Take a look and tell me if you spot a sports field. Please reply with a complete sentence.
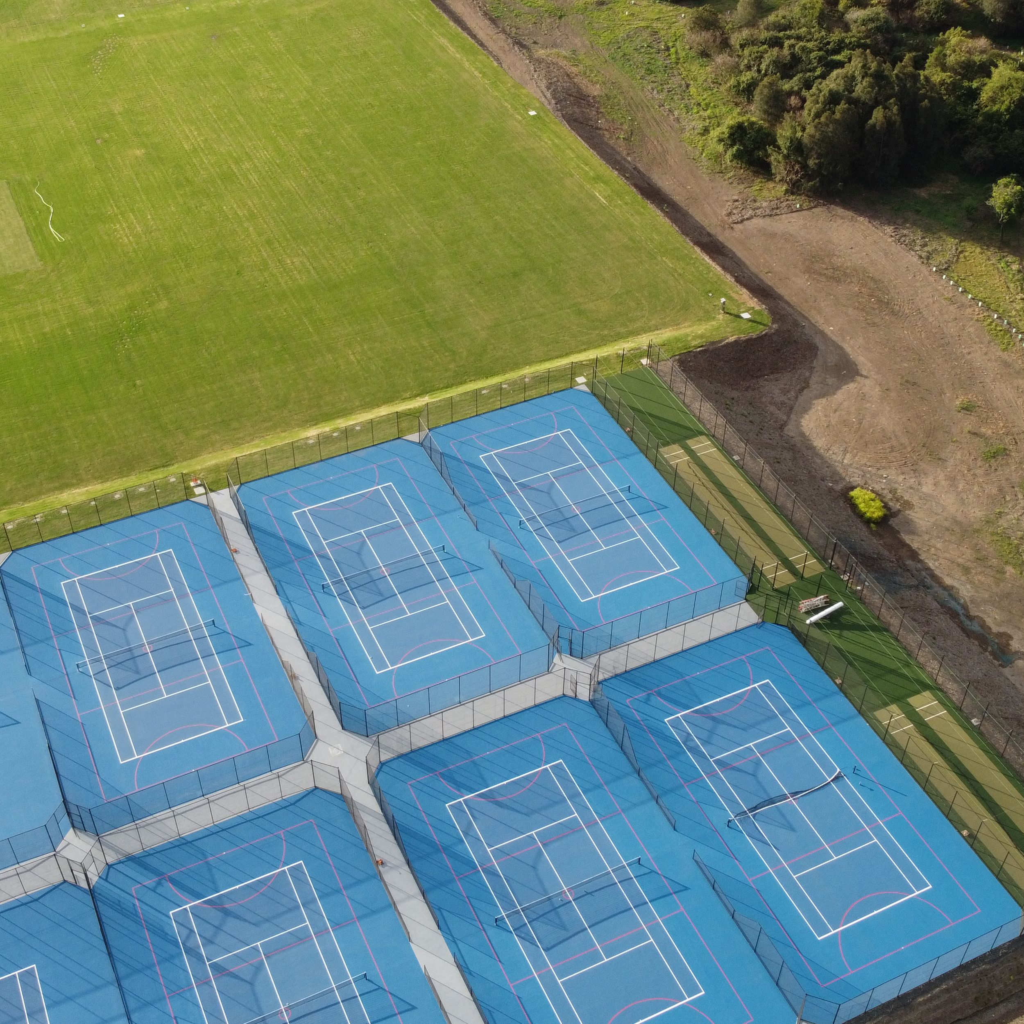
Yes, you can see a sports field in this photo.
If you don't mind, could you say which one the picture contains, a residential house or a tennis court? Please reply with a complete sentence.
Visible in the photo is a tennis court.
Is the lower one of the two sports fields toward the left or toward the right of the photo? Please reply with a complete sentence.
You can find the lower one of the two sports fields on the right side of the picture.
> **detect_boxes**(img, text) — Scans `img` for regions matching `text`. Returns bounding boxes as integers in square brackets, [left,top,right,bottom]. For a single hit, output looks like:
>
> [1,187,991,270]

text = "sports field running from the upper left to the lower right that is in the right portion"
[589,365,1024,908]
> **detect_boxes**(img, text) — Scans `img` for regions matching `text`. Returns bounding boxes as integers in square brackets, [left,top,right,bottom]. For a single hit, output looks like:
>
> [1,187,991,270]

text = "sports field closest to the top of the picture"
[0,0,771,553]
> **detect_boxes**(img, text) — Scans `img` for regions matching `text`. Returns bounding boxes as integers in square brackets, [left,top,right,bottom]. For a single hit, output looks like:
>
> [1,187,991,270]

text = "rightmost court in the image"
[590,621,1022,1024]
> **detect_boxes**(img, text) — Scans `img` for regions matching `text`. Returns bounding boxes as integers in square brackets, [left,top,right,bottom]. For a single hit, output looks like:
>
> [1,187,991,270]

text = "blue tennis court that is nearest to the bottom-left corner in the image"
[0,879,129,1024]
